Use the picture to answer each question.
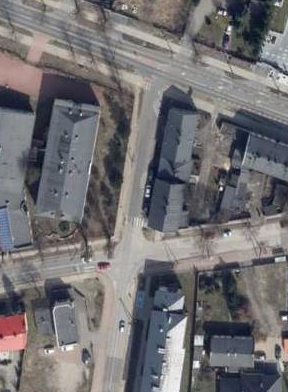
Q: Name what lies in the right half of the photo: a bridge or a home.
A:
home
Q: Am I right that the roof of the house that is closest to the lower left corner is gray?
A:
No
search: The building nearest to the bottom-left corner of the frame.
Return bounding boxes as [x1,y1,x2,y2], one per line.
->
[0,314,28,352]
